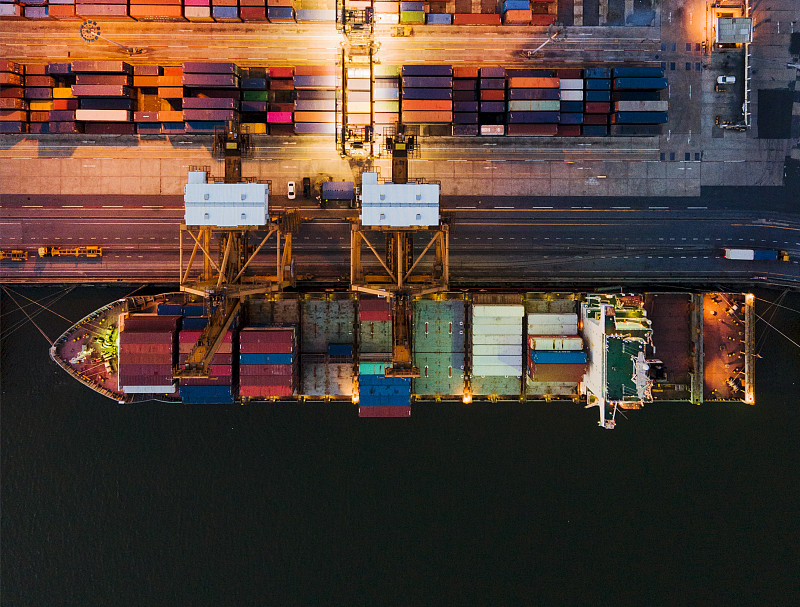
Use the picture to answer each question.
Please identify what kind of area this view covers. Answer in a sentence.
What you see here is a port.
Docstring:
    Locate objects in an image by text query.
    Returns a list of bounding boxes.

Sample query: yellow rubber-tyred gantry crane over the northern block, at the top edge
[336,0,387,49]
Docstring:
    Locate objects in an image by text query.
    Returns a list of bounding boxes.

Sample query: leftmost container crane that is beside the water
[169,118,323,375]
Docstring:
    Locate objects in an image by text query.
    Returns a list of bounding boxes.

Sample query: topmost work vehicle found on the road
[385,26,412,38]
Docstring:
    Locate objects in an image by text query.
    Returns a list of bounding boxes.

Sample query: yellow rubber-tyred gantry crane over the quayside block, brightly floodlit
[336,41,387,162]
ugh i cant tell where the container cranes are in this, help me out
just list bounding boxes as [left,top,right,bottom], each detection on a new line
[169,118,323,375]
[336,41,387,162]
[333,119,463,374]
[336,0,387,49]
